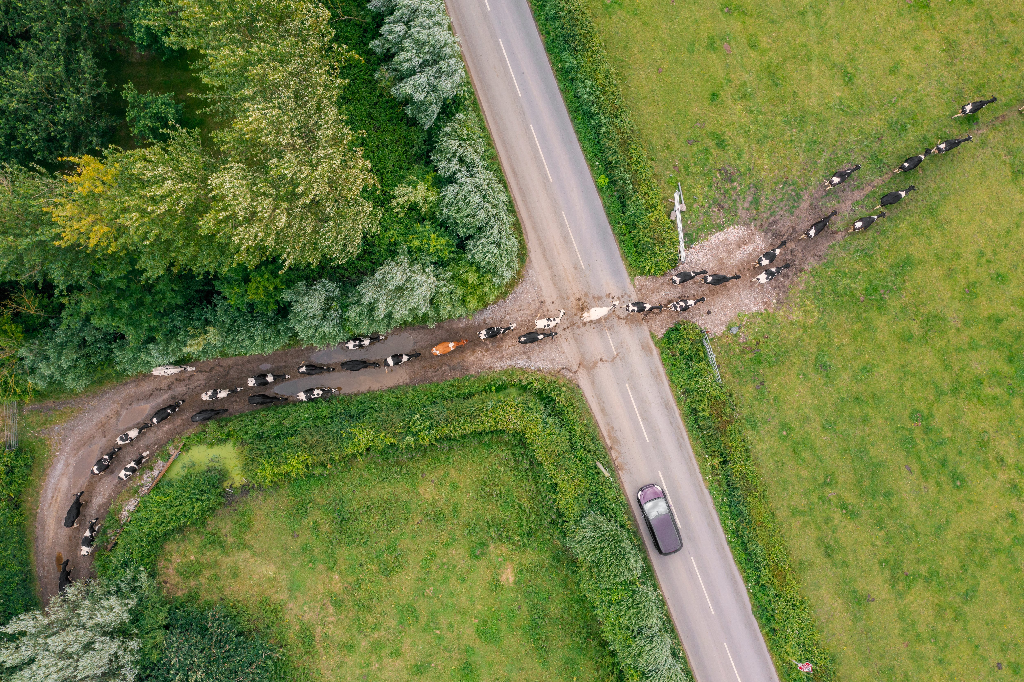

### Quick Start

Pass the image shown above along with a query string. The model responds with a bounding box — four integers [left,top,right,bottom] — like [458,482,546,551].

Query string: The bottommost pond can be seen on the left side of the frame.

[156,440,251,494]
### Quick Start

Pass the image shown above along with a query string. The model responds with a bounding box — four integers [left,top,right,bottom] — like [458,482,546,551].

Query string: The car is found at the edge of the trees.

[638,483,685,558]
